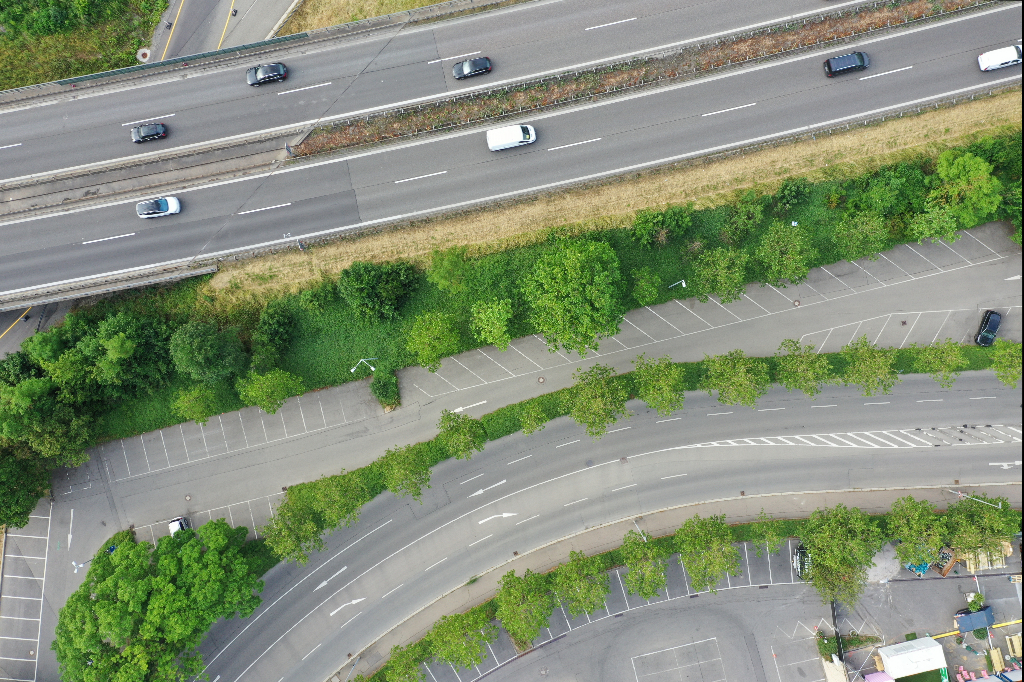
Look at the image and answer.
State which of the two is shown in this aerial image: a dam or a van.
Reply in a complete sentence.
This aerial view contains a van.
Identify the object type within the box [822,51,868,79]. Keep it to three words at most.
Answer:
van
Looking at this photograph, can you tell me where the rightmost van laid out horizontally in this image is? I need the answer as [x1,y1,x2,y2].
[977,43,1024,72]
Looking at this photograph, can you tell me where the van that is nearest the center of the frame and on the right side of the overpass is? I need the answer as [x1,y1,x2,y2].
[486,123,536,152]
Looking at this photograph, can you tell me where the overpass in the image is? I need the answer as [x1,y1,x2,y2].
[0,12,415,315]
